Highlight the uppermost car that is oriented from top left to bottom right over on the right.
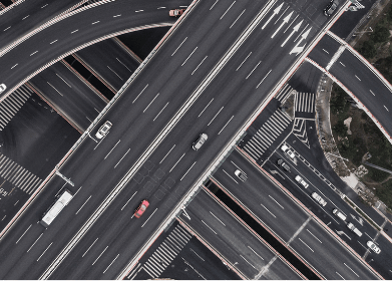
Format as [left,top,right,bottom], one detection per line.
[279,144,296,159]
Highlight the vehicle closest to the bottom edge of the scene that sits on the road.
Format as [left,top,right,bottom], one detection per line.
[365,240,381,255]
